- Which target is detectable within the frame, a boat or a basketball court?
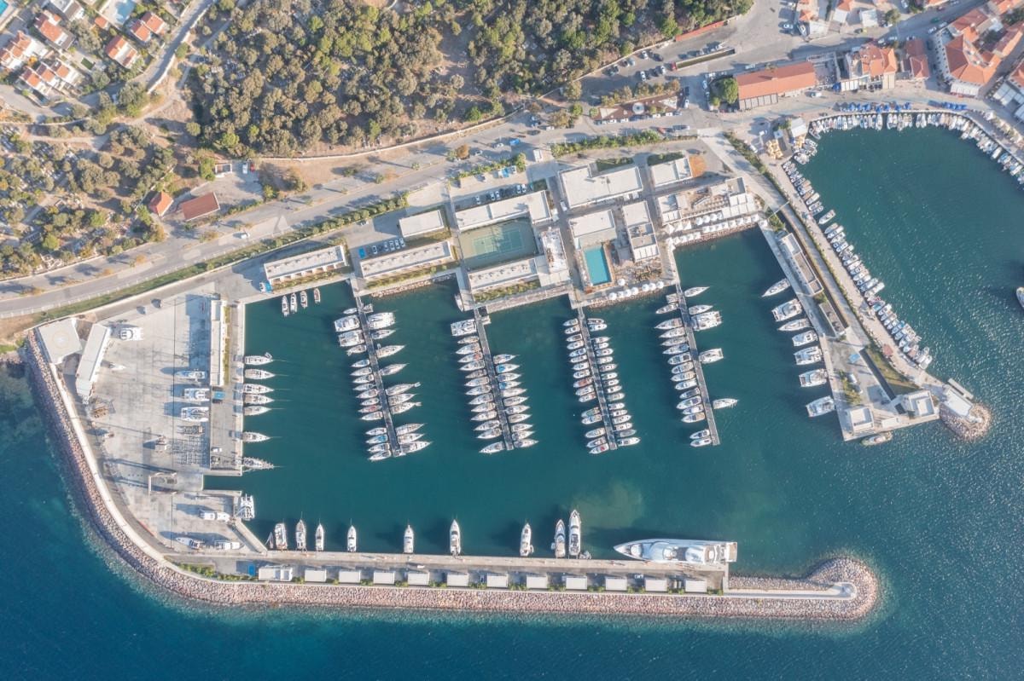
boat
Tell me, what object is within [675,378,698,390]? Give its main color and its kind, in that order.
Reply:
white boat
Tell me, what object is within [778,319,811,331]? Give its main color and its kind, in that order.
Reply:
white boat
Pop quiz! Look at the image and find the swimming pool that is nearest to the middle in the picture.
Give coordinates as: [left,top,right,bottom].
[579,241,616,289]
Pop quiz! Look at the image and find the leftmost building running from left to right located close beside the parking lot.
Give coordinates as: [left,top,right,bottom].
[264,246,349,283]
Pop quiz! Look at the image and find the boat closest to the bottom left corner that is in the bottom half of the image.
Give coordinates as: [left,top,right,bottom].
[168,537,205,553]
